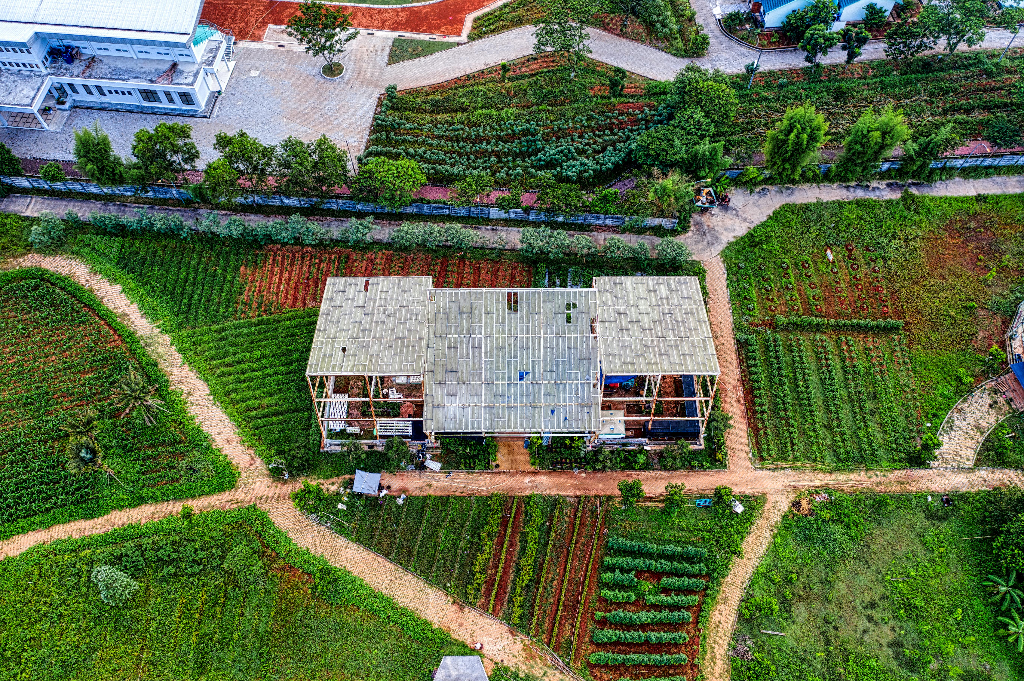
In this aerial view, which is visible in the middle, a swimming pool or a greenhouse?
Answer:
greenhouse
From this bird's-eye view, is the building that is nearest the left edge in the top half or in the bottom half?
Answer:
top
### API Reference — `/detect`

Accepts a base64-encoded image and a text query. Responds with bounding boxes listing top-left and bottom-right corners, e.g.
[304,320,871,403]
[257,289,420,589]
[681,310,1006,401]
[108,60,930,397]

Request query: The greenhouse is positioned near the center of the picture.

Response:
[304,275,721,453]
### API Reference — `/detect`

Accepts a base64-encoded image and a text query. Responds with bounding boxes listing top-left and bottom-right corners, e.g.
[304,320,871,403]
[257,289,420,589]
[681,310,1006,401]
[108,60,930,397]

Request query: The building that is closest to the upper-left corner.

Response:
[0,0,240,133]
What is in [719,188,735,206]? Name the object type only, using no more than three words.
work vehicle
